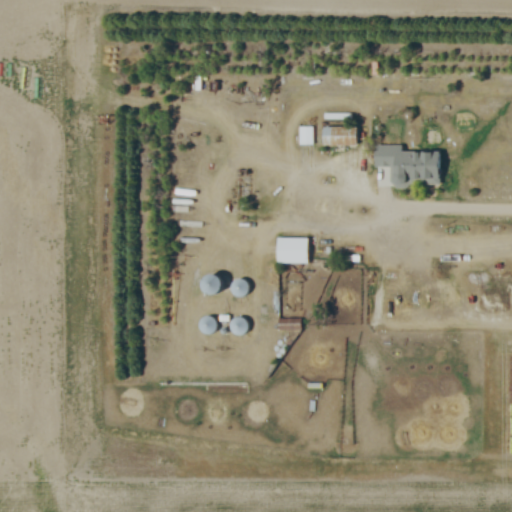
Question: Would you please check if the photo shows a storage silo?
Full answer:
Yes, you can see a storage silo in this photo.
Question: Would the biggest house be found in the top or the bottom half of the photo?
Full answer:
Seen from above, the biggest house lies in the top half of the view.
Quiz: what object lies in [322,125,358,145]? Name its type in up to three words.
barn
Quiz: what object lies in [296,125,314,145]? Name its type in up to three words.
shed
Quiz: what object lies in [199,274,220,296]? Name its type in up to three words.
silo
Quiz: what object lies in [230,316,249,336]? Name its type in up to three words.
silo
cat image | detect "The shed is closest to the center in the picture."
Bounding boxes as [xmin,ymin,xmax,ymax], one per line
[277,237,308,264]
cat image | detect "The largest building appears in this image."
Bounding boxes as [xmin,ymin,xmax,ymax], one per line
[375,144,442,188]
